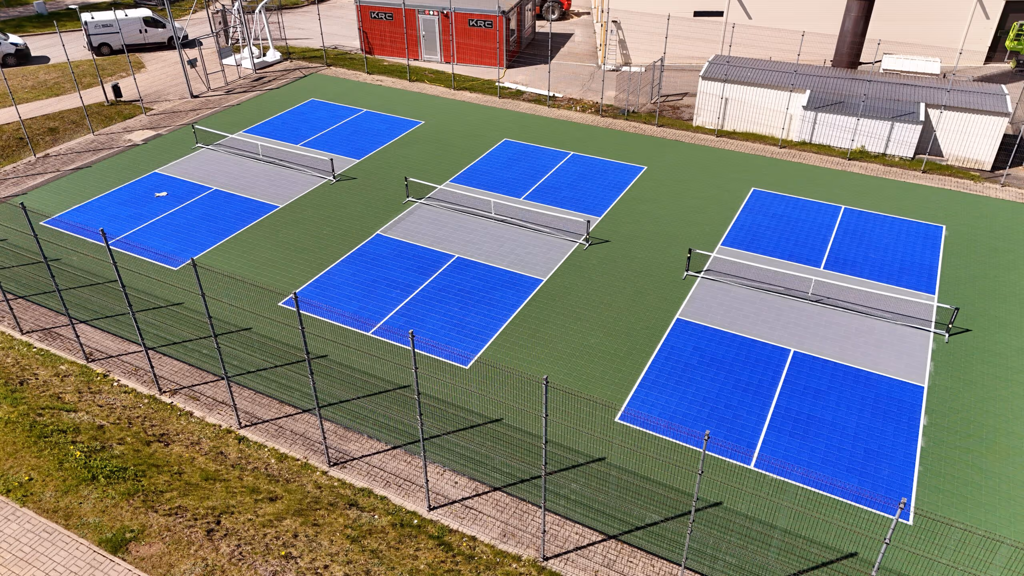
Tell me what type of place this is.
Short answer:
sports ground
